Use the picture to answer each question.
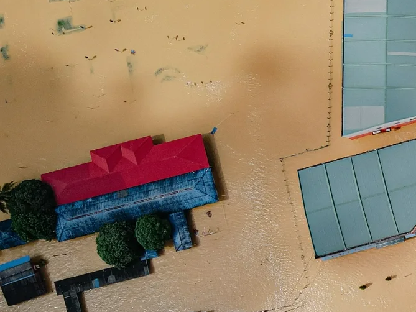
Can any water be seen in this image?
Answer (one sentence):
Yes, the picture does contain water.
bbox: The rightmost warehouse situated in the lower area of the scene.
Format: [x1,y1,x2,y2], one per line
[297,139,416,260]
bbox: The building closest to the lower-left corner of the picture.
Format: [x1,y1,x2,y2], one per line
[0,256,51,305]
